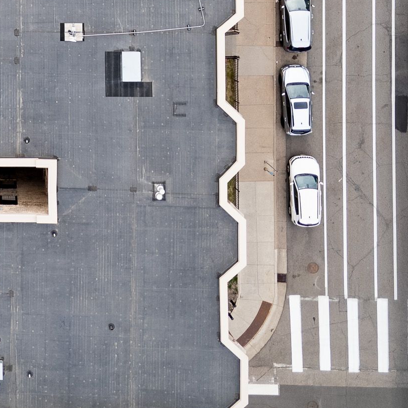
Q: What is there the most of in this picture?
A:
buildings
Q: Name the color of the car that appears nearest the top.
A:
white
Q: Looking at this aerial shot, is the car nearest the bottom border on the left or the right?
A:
right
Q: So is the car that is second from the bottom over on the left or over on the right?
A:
right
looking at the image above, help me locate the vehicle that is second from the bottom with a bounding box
[279,63,317,136]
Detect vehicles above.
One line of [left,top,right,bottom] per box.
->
[287,153,326,228]
[279,0,317,54]
[279,63,317,136]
